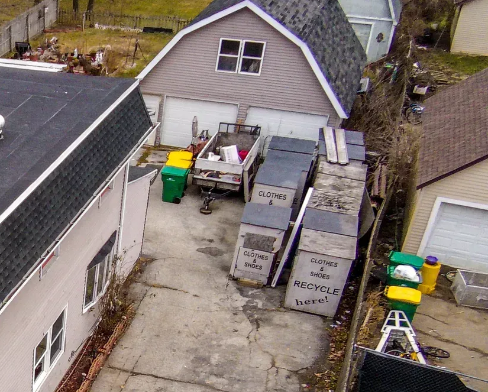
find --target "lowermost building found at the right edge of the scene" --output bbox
[408,80,488,265]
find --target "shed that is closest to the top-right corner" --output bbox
[447,0,488,55]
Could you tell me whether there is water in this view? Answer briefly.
No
